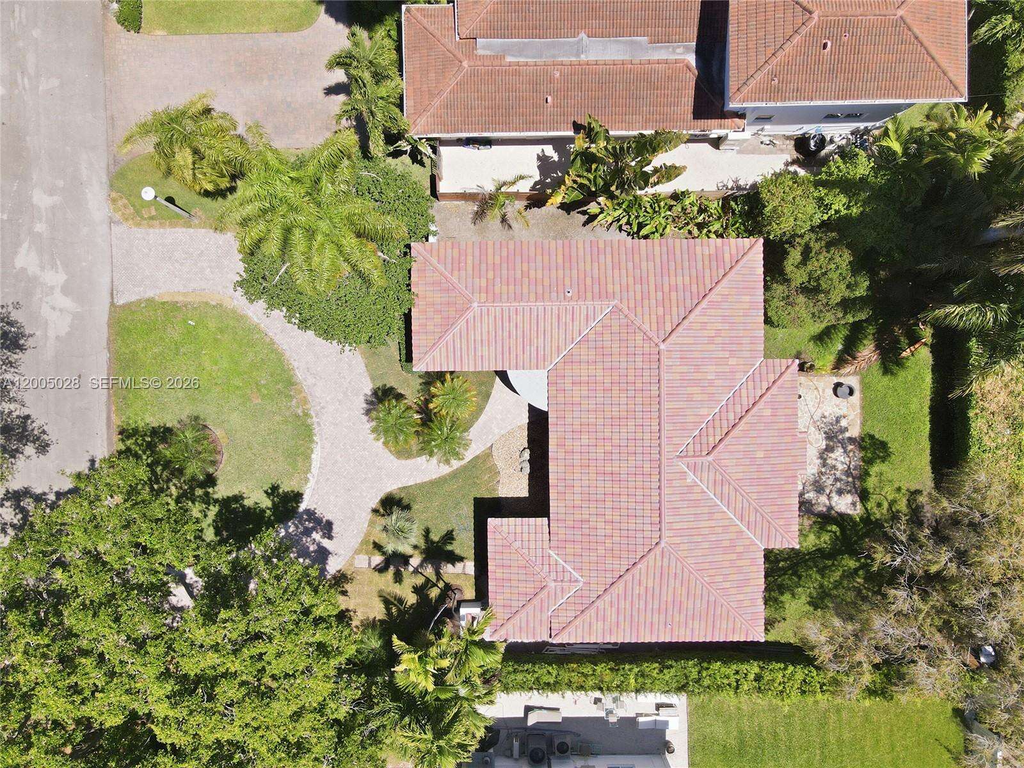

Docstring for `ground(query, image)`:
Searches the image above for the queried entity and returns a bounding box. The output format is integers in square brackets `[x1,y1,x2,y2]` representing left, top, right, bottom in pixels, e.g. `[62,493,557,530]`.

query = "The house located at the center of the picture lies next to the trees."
[408,236,808,645]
